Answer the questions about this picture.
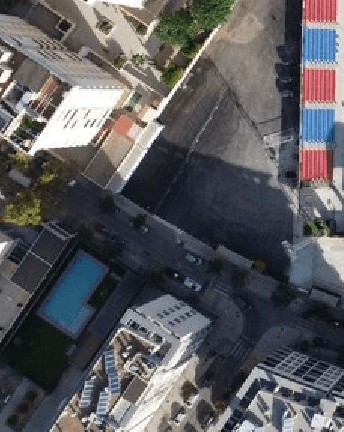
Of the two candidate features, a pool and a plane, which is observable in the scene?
pool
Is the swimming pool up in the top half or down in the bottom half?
bottom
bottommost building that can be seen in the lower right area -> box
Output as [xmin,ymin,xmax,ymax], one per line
[217,345,344,432]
